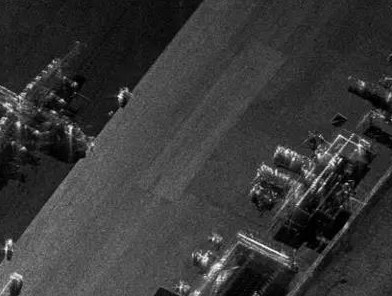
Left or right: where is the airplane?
left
